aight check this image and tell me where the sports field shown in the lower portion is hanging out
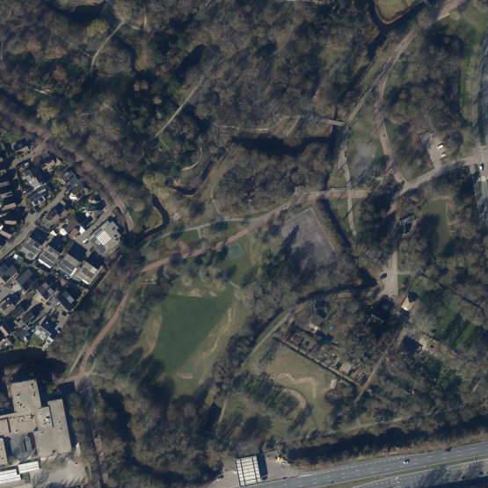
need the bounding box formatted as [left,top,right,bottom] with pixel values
[155,290,236,373]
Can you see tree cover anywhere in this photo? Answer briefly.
Yes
